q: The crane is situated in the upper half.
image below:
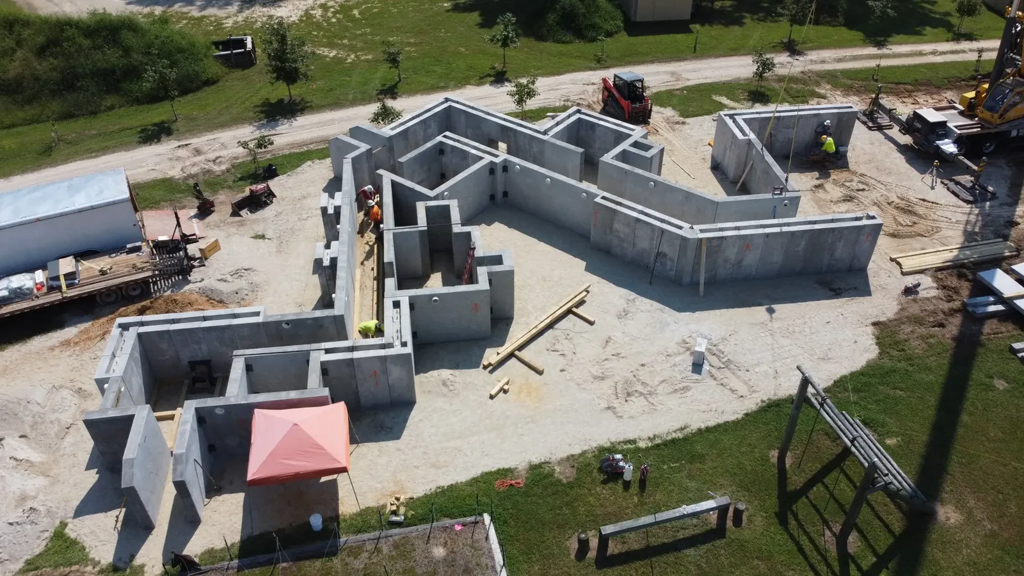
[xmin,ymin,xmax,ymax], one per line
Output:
[875,0,1024,186]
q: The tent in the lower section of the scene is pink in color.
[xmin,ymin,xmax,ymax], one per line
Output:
[248,402,357,525]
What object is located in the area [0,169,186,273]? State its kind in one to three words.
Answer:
trailer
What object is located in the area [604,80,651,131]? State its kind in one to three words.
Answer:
work vehicle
